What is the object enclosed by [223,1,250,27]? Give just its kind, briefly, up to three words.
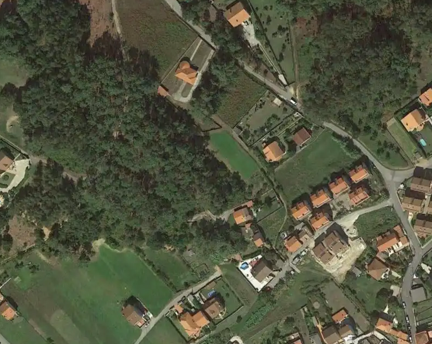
house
